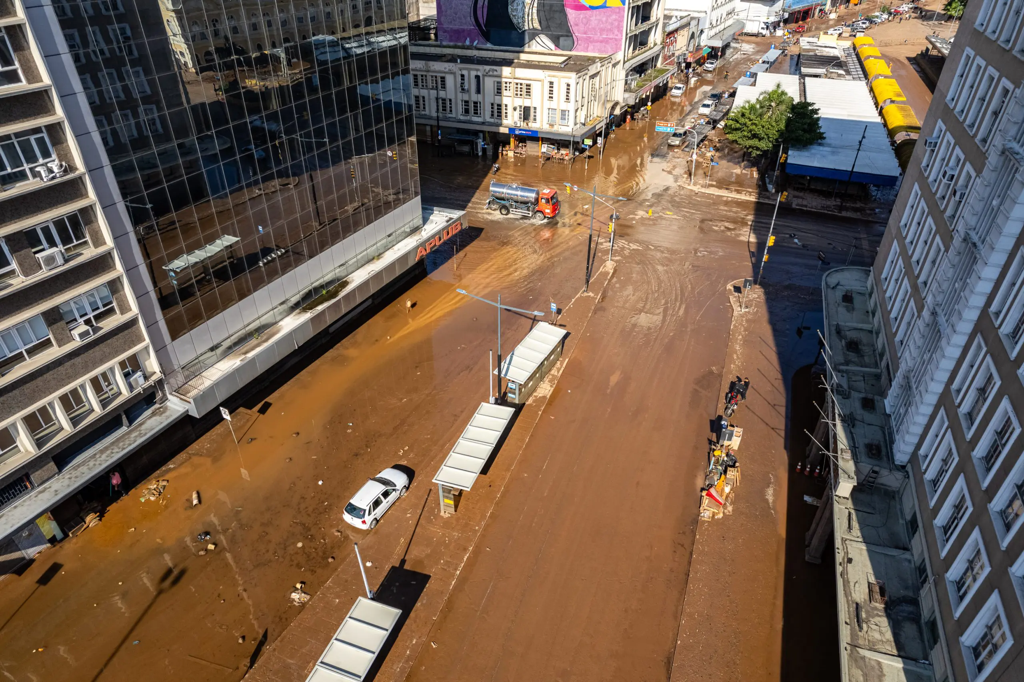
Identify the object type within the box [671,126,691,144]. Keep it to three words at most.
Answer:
car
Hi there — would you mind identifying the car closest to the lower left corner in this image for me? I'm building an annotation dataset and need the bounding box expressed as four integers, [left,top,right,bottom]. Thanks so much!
[335,468,410,535]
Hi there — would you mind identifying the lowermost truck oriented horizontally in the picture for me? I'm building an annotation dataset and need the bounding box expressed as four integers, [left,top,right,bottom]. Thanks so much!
[481,173,561,221]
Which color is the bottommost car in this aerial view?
white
